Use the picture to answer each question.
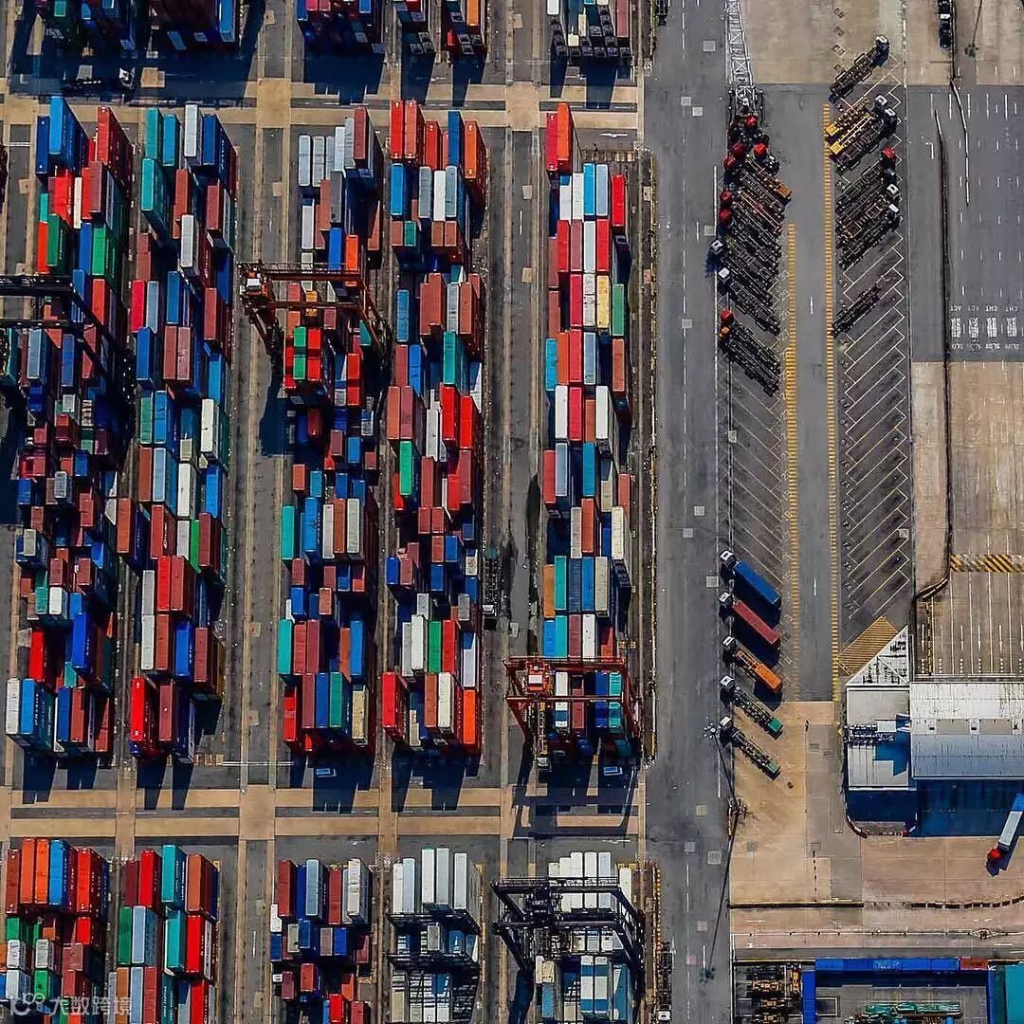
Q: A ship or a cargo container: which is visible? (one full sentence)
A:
There is a cargo container in the scene.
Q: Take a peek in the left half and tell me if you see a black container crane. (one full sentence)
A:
Yes, in the left half there is a black container crane.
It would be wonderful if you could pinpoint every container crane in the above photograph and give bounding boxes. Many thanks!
[0,277,129,407]
[236,267,396,385]
[501,652,646,756]
[489,880,642,967]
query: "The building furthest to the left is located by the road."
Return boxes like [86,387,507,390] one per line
[847,691,911,798]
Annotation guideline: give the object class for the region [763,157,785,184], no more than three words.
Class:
truck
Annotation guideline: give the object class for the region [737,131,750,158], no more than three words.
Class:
vehicle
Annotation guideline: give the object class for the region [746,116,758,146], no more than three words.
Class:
vehicle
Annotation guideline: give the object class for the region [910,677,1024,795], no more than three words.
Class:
shed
